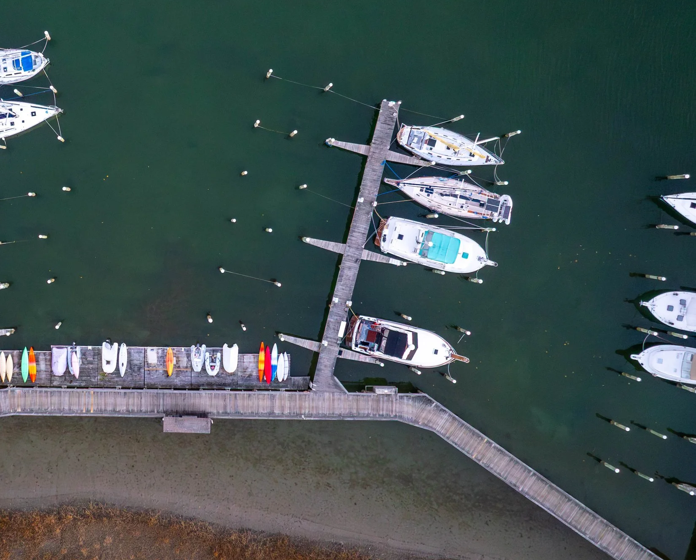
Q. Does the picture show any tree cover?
No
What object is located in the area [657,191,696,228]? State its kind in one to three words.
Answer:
boat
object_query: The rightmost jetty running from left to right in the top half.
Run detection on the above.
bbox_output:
[387,150,429,166]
